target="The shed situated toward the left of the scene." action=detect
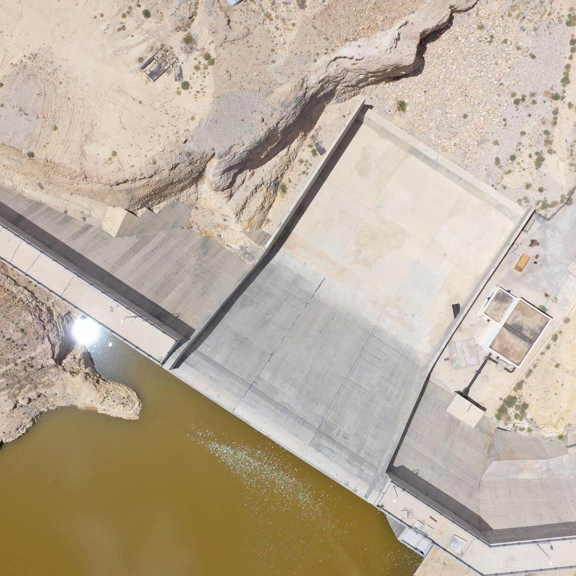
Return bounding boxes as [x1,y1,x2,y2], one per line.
[141,46,177,84]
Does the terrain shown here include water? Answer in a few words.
Yes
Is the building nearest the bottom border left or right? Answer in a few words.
right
